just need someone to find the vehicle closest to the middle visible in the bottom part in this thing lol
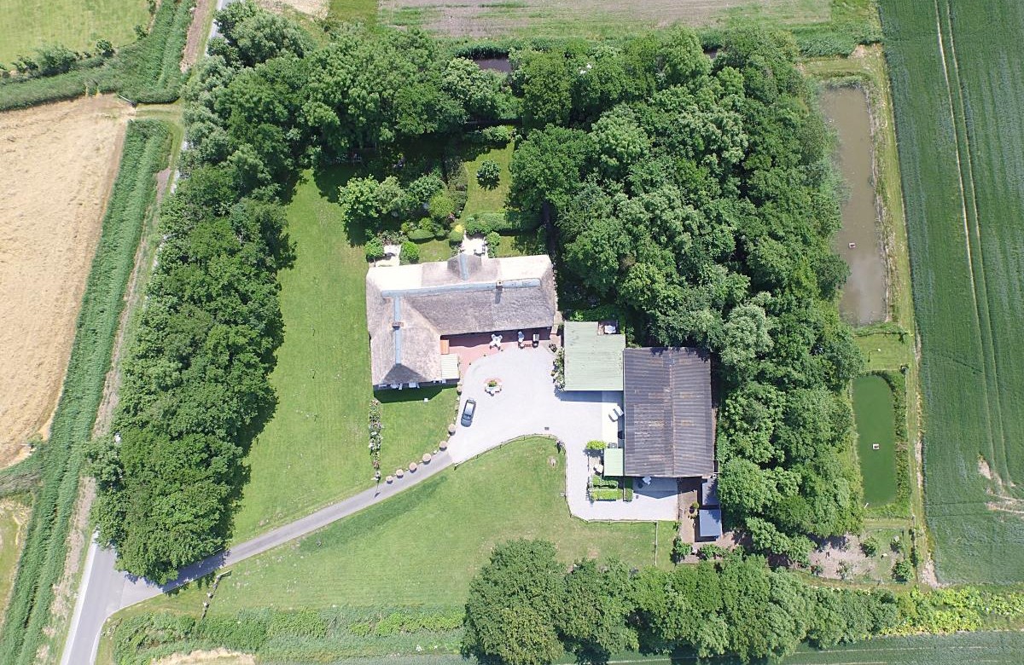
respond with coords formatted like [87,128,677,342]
[459,399,475,428]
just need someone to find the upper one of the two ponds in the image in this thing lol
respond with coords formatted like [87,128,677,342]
[815,86,888,326]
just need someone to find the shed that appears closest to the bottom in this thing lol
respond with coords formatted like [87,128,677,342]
[696,510,721,537]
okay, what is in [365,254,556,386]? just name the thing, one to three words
house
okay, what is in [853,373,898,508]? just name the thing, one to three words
pond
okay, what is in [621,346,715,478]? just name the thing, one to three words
barn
